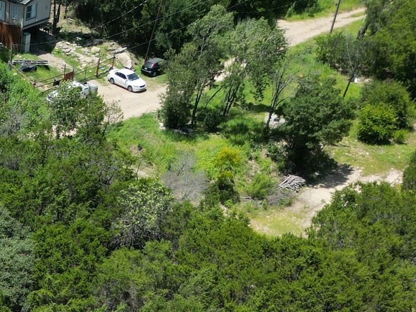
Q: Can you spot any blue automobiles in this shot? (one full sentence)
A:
No, I can't see a single blue automobile in this photo.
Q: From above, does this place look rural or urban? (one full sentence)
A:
The area is rural.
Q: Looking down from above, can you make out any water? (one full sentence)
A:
No, there's no water in this view.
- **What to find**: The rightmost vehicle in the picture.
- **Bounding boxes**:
[142,59,163,77]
